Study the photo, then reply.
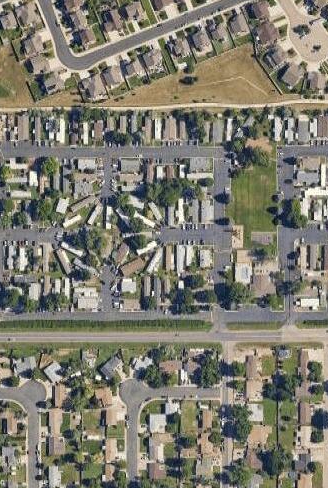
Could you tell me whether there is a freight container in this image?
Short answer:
No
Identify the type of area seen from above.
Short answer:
residential area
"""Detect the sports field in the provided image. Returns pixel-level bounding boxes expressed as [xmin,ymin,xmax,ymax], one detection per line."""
[232,165,276,231]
